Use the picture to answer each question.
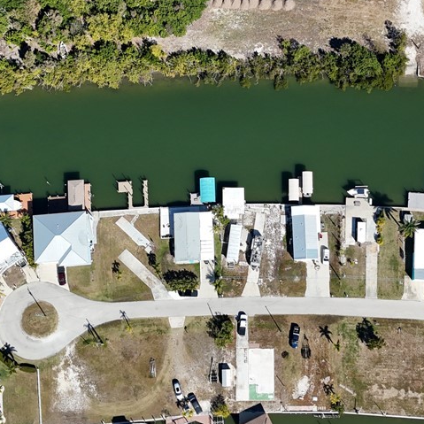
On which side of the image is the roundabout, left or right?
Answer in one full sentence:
The roundabout is on the left side of the image.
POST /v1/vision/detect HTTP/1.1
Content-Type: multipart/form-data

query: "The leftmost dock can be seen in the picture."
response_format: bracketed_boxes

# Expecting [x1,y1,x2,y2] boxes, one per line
[9,192,35,217]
